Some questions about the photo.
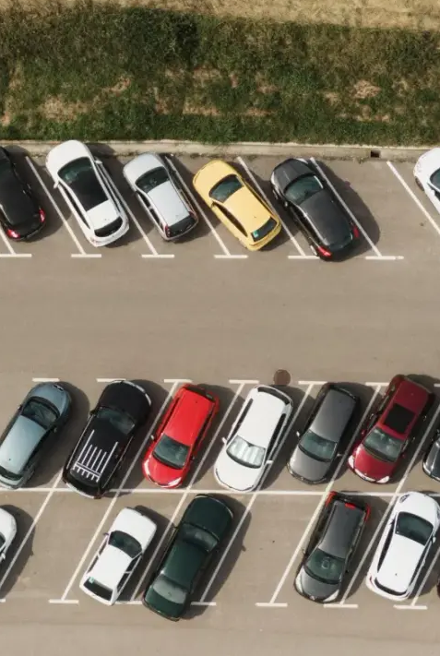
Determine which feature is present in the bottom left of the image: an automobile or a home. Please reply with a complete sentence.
The one visible in the bottom left of the image is an automobile.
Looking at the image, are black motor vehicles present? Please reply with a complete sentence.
Yes, the picture does show a black motor vehicle.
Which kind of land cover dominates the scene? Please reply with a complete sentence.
The scene is dominated by paved ground.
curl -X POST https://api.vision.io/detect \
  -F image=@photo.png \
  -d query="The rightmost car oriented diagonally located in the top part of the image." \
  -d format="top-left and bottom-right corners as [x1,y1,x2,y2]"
[270,159,357,261]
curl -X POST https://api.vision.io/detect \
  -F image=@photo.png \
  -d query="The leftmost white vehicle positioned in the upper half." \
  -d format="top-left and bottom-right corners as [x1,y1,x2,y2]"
[48,140,130,247]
